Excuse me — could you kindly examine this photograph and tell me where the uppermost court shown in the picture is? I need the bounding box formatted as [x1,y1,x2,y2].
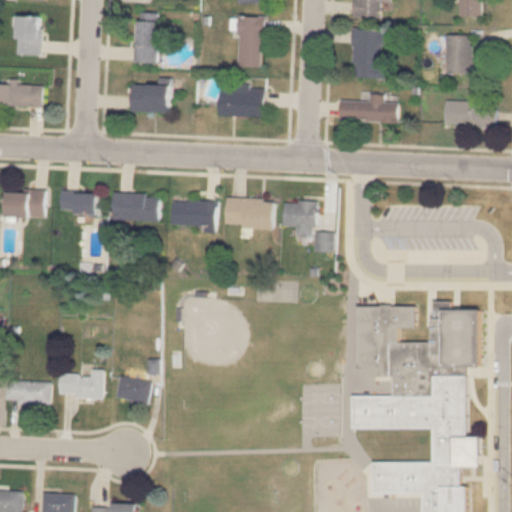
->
[257,281,298,303]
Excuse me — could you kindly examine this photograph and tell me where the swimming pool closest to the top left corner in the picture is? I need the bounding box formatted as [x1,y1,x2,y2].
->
[166,44,194,66]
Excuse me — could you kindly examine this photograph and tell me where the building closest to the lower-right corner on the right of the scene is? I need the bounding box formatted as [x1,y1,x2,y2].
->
[352,300,482,512]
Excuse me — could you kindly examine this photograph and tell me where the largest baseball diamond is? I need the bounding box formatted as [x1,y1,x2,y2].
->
[182,296,250,366]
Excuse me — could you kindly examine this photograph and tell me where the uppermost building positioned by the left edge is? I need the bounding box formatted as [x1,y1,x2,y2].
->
[13,16,44,56]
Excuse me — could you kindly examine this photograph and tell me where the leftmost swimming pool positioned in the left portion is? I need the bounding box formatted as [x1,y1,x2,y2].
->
[3,228,16,253]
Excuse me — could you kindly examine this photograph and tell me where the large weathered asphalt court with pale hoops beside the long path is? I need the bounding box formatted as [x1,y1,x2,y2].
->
[299,384,342,448]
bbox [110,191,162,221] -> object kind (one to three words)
house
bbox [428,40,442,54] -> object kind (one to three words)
swimming pool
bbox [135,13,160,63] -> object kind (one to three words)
house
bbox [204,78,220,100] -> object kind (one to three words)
swimming pool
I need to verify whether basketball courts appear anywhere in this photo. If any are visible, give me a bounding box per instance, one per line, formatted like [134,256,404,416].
[299,384,342,448]
[257,281,298,303]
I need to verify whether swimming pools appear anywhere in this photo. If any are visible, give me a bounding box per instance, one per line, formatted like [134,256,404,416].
[428,40,442,54]
[166,44,194,66]
[204,78,220,100]
[90,233,102,257]
[3,228,16,253]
